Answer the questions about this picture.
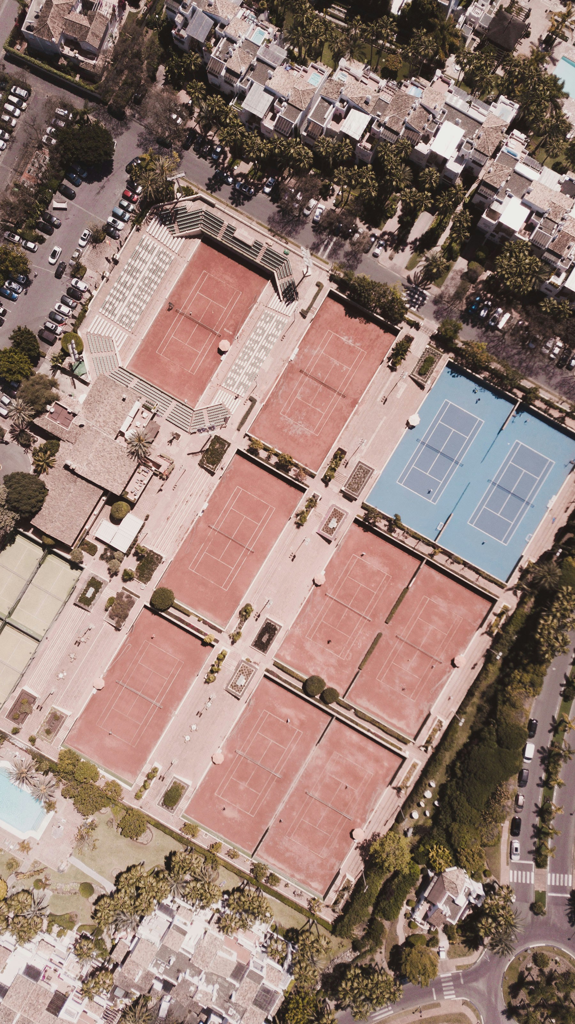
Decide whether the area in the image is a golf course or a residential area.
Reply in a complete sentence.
The picture captures a residential area.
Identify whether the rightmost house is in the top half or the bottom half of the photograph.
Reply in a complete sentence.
The rightmost house sits in the top half of the picture.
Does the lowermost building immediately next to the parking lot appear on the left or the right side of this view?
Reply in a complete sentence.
It is on the left.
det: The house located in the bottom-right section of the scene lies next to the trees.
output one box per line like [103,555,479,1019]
[410,853,486,930]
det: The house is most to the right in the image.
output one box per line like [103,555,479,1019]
[520,169,575,300]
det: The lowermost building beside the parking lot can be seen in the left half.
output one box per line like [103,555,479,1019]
[29,371,142,548]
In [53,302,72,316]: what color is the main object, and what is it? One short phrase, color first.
white car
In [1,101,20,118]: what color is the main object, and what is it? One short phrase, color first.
white car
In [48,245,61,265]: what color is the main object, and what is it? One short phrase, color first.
white vehicle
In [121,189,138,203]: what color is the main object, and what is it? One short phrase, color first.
red car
